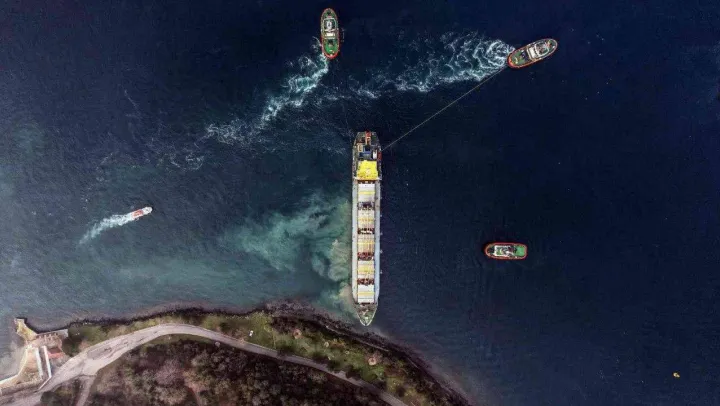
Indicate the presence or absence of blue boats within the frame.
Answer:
No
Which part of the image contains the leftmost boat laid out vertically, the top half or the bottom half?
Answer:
top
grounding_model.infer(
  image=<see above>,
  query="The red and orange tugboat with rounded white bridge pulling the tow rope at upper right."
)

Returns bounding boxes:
[508,38,558,67]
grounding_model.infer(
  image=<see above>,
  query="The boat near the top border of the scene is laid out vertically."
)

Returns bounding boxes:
[320,6,340,58]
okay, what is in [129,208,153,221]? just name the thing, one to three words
boat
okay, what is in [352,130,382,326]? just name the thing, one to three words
ship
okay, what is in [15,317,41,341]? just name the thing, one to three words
pier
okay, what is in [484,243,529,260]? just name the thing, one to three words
boat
